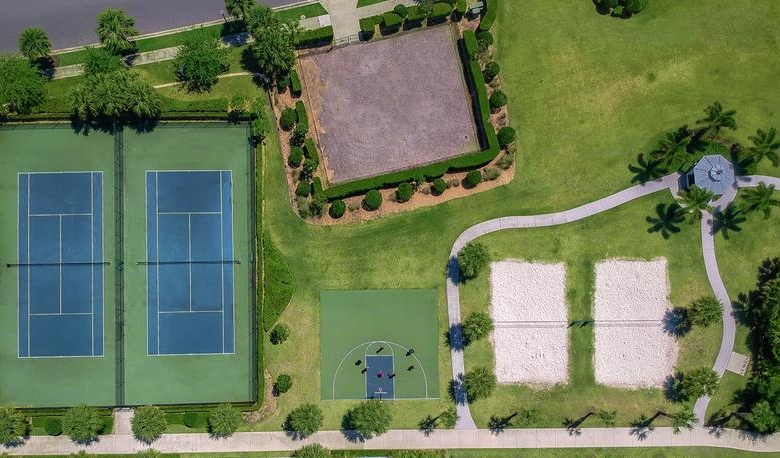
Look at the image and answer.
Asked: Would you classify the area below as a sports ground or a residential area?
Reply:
sports ground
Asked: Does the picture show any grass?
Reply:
Yes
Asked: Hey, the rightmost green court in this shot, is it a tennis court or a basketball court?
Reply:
basketball court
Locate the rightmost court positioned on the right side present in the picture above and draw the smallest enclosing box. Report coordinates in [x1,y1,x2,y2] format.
[592,257,676,389]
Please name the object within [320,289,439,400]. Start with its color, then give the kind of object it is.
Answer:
green basketball court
